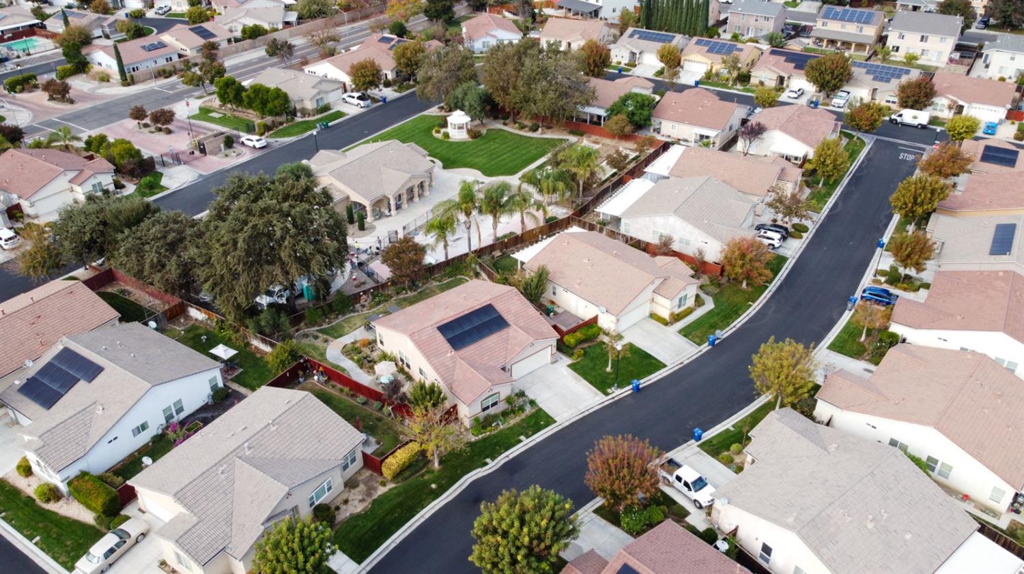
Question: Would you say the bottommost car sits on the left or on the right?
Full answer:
You can find the bottommost car on the left side of the picture.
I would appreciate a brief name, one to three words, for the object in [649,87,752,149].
house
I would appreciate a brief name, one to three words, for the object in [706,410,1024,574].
house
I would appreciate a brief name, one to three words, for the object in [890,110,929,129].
vehicle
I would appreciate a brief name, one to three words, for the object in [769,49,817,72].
solar array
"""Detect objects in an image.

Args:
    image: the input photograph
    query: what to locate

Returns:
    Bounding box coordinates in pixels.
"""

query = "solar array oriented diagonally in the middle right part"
[983,223,1022,255]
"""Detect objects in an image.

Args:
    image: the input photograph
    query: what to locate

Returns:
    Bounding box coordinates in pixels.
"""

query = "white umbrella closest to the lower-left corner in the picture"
[206,344,238,361]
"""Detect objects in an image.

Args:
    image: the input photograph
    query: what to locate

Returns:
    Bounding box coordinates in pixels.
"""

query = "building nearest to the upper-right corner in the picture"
[971,32,1024,82]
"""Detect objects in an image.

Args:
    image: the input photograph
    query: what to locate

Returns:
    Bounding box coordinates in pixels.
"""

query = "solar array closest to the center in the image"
[437,304,509,350]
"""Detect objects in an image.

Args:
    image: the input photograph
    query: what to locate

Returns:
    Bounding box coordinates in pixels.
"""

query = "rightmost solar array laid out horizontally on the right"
[979,145,1021,165]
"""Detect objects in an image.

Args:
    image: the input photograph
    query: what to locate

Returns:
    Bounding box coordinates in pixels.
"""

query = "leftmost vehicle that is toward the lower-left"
[68,517,149,574]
